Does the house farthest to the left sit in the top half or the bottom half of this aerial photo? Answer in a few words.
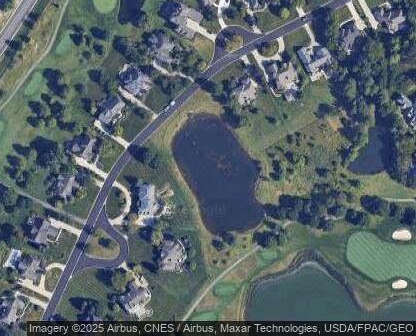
bottom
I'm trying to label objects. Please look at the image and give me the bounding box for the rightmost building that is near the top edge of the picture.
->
[372,5,409,36]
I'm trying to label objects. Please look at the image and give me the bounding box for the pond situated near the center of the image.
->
[172,112,266,233]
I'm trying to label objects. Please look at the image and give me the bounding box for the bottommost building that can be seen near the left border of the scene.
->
[0,291,30,325]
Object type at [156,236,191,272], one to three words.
house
